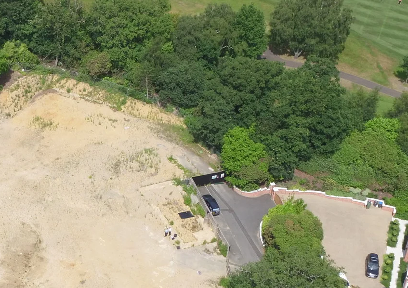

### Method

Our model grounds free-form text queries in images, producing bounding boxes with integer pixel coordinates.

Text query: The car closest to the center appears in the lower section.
[201,193,222,215]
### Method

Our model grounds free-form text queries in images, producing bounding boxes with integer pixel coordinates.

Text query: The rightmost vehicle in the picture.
[364,252,380,277]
